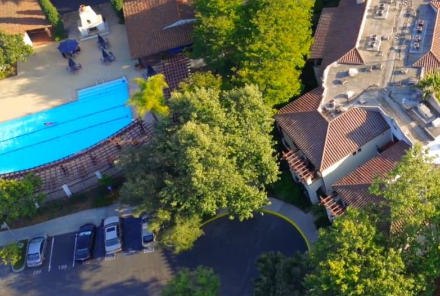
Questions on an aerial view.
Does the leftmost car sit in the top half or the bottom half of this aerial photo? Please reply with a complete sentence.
You can find the leftmost car in the bottom half.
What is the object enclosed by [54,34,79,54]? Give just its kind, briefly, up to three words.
umbrella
